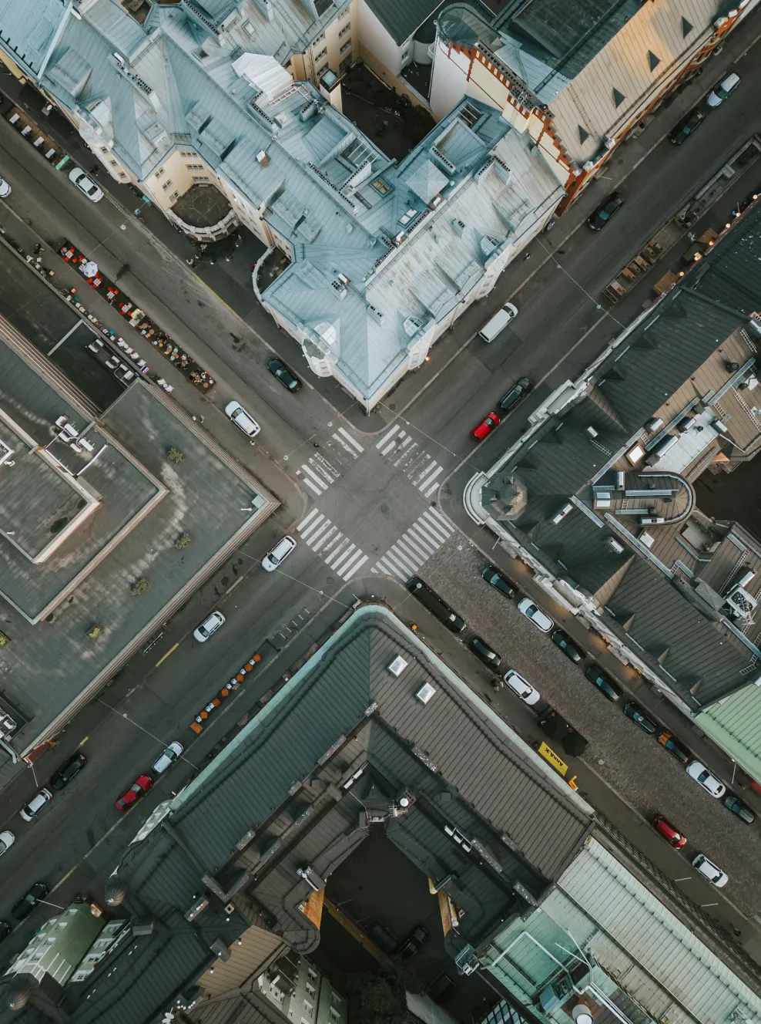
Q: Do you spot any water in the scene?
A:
No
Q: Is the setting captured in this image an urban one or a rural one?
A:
urban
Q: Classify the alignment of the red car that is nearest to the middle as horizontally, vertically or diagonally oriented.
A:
diagonally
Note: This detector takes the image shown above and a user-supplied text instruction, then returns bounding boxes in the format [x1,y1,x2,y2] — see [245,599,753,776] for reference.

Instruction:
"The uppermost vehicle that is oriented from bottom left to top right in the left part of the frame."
[258,531,301,574]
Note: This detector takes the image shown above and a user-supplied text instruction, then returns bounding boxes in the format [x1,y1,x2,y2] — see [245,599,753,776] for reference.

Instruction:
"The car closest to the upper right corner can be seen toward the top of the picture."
[702,69,745,113]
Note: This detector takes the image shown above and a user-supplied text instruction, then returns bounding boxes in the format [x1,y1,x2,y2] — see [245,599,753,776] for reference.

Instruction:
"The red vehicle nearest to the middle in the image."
[469,410,502,443]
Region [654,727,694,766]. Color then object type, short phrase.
black car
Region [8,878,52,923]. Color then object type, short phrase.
black car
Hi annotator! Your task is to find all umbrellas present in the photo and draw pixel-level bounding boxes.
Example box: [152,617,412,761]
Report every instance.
[83,261,100,278]
[558,728,590,759]
[539,710,573,744]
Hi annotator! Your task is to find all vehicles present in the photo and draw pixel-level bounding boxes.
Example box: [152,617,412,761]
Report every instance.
[403,574,469,636]
[687,847,731,890]
[654,727,694,766]
[666,105,709,149]
[190,605,229,645]
[581,661,626,704]
[476,301,520,346]
[514,595,557,636]
[394,919,435,963]
[547,627,587,666]
[8,878,52,923]
[264,353,306,395]
[112,771,155,814]
[65,163,107,208]
[467,634,503,670]
[258,531,301,574]
[146,737,188,779]
[702,69,745,113]
[649,812,689,851]
[362,914,402,957]
[49,746,93,791]
[685,758,727,799]
[494,375,534,416]
[222,397,266,441]
[16,782,57,824]
[720,789,759,827]
[620,697,661,737]
[478,561,522,604]
[469,410,502,443]
[499,665,543,707]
